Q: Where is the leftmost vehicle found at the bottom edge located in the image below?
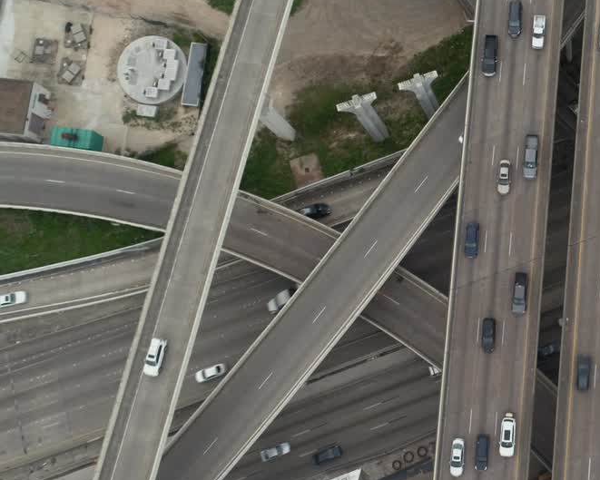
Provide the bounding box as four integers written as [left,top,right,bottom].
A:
[260,441,291,462]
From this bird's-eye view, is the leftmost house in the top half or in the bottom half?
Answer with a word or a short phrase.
top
